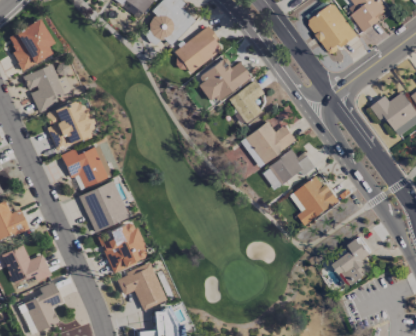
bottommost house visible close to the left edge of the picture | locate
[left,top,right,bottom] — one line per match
[18,284,62,334]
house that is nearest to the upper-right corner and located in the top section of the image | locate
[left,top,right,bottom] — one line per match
[351,0,386,32]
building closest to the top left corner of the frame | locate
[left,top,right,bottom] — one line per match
[10,19,60,69]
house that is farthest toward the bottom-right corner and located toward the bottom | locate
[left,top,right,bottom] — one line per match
[332,237,376,287]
